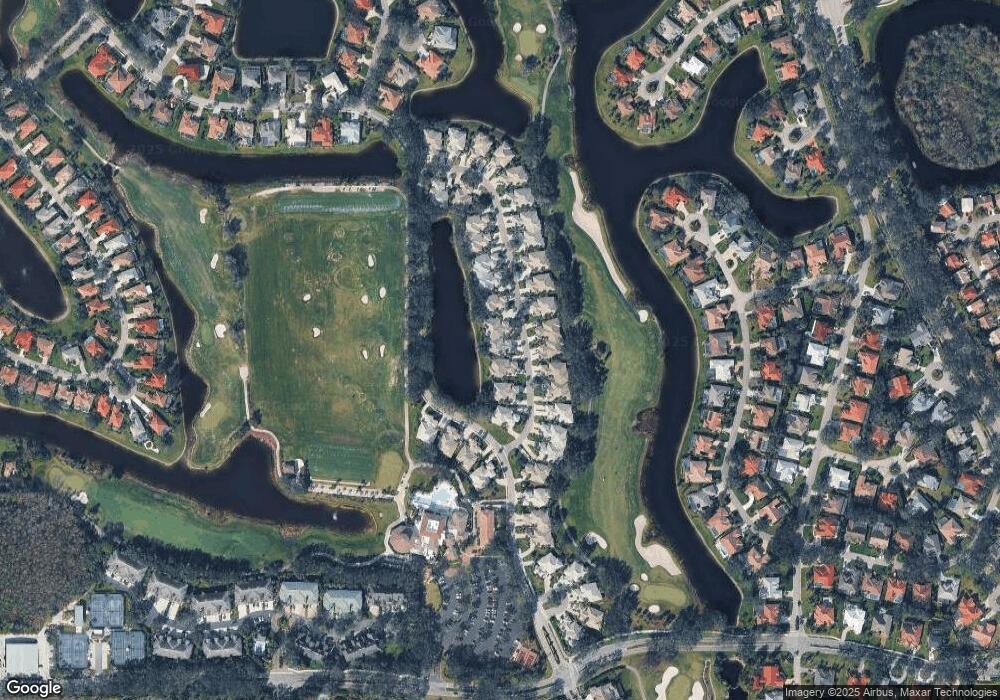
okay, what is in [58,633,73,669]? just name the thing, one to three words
tennis court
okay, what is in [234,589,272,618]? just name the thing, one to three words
building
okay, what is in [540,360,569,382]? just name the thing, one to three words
house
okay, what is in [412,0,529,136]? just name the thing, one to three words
pond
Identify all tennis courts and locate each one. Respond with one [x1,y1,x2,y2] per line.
[128,631,145,665]
[111,631,128,665]
[107,594,124,628]
[91,594,107,628]
[58,633,73,669]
